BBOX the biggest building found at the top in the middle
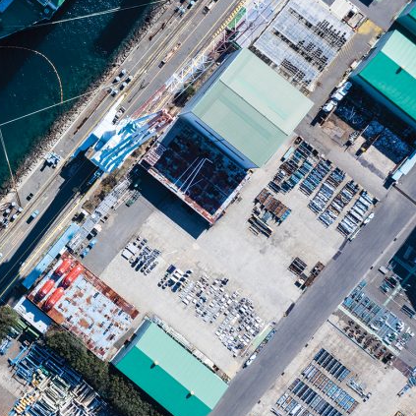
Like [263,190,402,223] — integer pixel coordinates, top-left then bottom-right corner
[186,48,313,169]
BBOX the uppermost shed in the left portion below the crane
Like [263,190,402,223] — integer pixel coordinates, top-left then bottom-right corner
[88,194,123,224]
